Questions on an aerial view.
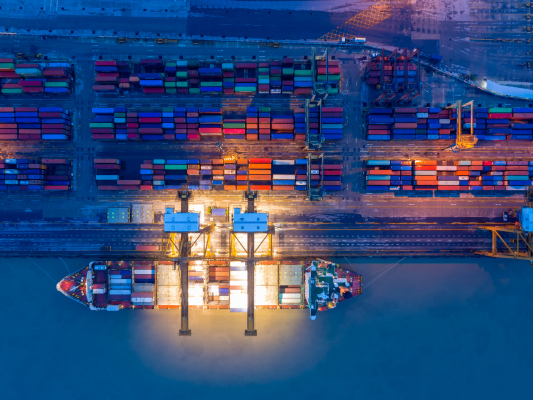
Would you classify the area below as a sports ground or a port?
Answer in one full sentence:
It's a port.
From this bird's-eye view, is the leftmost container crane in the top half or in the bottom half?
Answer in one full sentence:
The leftmost container crane is in the bottom half of the image.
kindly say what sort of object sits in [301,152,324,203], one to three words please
container crane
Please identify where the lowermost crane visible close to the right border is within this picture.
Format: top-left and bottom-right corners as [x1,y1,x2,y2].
[468,190,533,269]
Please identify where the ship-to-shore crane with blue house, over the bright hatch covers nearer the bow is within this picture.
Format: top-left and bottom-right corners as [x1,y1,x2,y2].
[160,190,221,338]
